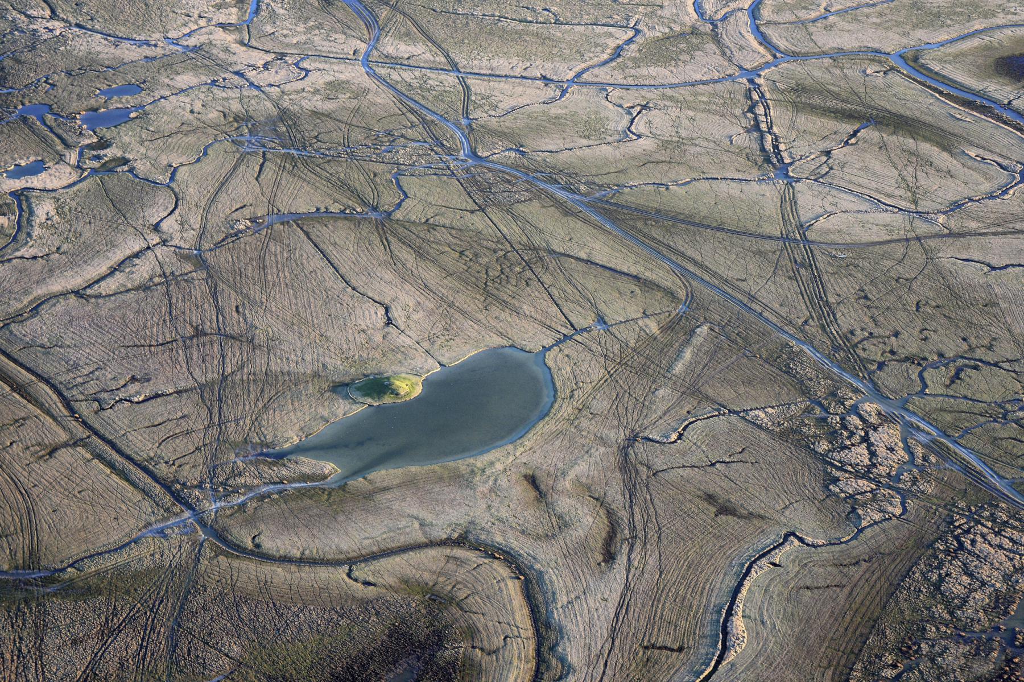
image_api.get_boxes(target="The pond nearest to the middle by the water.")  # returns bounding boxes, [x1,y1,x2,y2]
[269,347,555,488]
